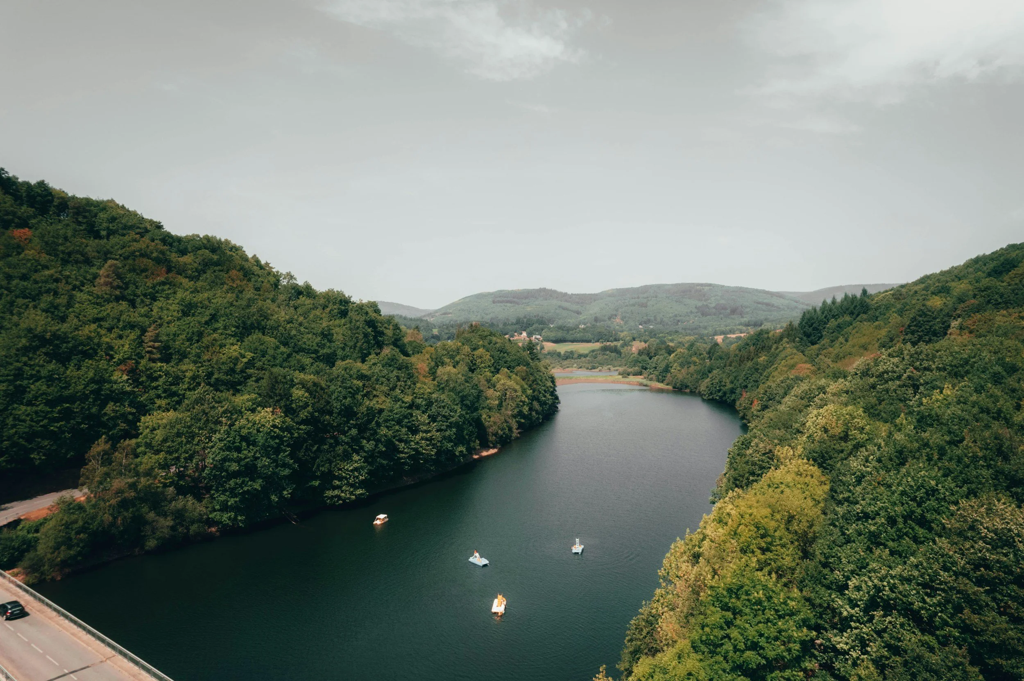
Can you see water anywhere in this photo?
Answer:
Yes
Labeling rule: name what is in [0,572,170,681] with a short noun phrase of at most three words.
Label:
bridge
